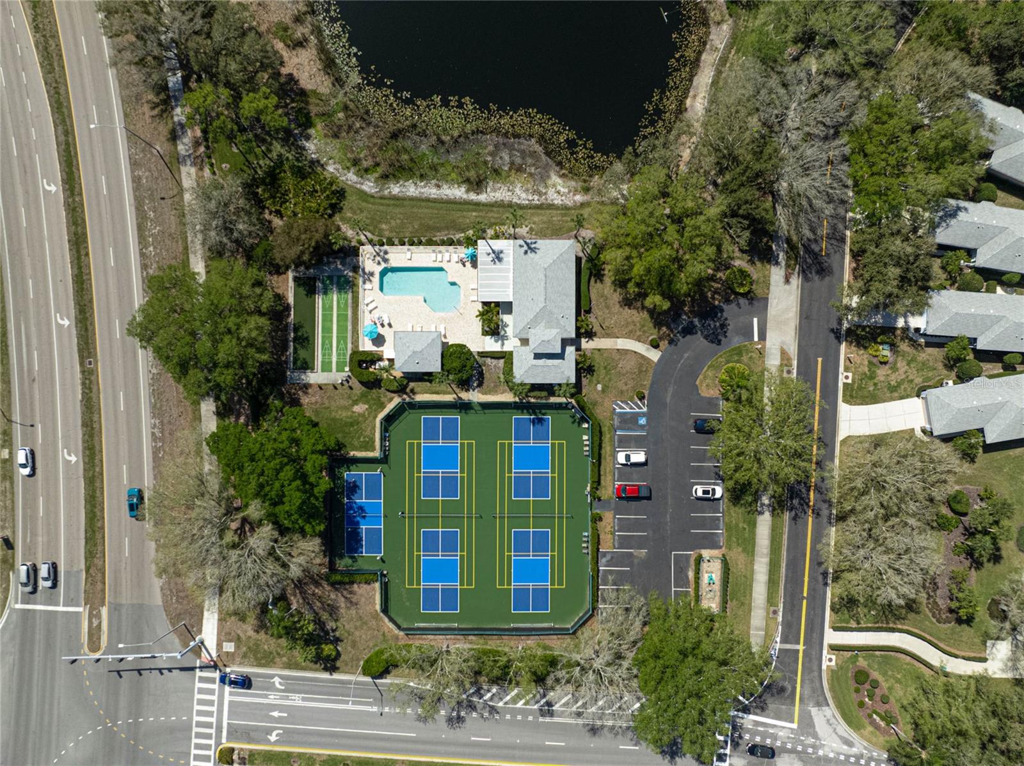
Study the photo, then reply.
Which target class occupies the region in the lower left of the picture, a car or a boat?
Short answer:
car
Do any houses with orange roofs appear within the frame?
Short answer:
No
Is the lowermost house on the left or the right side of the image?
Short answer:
right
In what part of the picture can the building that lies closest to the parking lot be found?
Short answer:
center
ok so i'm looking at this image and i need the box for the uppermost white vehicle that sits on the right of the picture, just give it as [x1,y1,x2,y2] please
[617,451,646,465]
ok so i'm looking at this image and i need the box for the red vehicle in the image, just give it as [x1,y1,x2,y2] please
[615,484,649,499]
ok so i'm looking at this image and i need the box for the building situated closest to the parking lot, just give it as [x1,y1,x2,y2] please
[513,240,579,384]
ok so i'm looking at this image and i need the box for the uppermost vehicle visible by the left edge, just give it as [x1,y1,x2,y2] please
[17,447,34,476]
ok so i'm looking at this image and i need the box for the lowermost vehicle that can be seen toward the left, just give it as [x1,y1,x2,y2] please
[221,673,250,689]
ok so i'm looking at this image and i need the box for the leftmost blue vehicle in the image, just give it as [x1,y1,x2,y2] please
[127,488,143,518]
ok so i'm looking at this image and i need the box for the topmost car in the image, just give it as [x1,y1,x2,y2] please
[693,419,722,432]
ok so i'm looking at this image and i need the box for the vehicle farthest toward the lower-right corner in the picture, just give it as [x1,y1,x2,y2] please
[745,742,775,759]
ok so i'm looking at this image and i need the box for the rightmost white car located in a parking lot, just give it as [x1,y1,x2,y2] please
[692,485,721,499]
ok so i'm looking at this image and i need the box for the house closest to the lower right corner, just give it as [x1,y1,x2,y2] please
[920,374,1024,440]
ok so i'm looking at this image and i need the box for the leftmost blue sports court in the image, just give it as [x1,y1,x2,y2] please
[342,473,384,555]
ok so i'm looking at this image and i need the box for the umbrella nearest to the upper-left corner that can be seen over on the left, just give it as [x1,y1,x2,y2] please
[363,324,378,339]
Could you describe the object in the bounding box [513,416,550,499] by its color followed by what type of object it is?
blue sports court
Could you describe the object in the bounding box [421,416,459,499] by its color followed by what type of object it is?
blue sports court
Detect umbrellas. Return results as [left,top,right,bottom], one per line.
[363,324,378,339]
[463,247,477,262]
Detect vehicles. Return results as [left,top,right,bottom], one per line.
[127,488,143,518]
[615,484,649,499]
[221,673,250,689]
[617,451,646,465]
[40,561,57,588]
[745,742,775,759]
[692,485,721,499]
[693,419,722,432]
[19,561,37,593]
[17,447,34,476]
